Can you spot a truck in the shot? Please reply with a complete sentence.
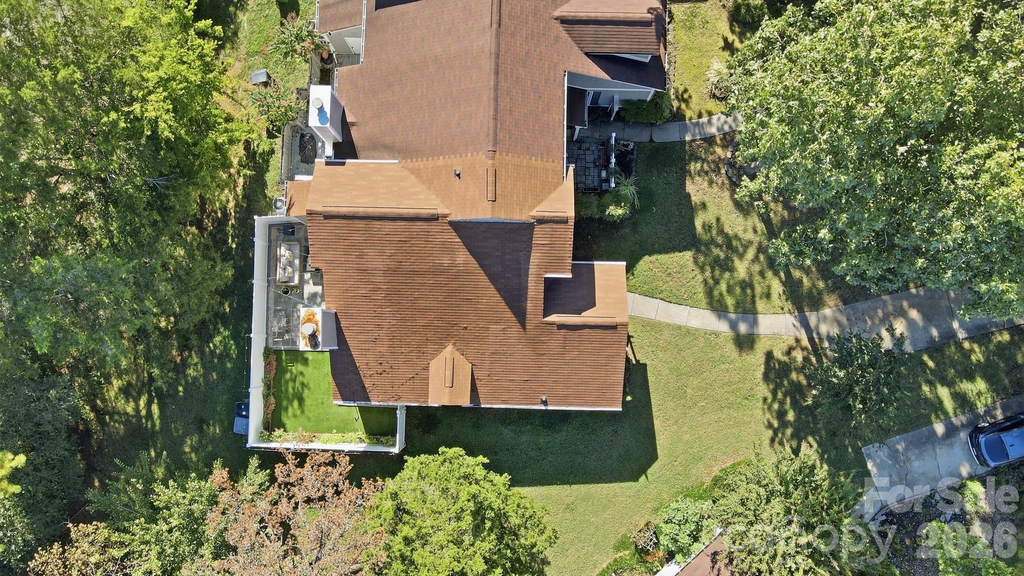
No, there isn't any truck down there.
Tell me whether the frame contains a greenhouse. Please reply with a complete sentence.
No, the photo shows no greenhouse.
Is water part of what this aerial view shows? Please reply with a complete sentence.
No, there's no water in this view.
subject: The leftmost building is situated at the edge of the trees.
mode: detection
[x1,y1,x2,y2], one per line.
[283,0,668,413]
